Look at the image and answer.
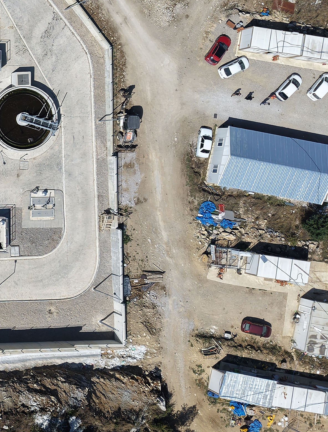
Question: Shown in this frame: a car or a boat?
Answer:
car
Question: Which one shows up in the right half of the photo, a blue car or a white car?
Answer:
white car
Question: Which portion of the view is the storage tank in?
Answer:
top left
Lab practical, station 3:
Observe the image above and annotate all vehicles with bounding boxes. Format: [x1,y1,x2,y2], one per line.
[270,70,306,105]
[300,71,328,105]
[212,53,252,81]
[234,316,275,339]
[201,30,232,68]
[193,124,215,160]
[119,91,148,153]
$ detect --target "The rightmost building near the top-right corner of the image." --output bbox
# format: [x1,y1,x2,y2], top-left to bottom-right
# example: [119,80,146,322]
[289,34,328,64]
